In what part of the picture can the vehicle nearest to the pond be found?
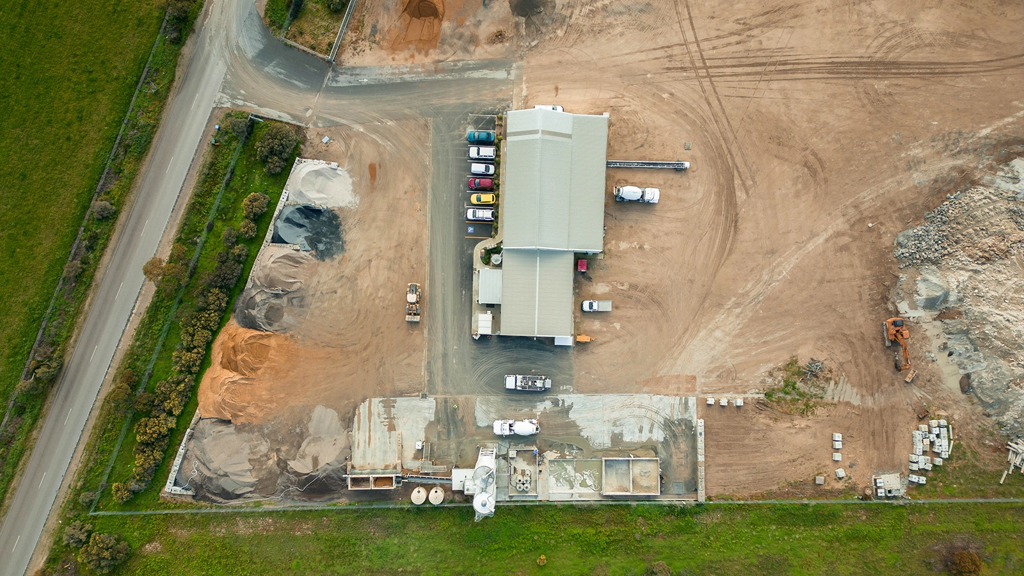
bottom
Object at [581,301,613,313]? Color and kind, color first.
white vehicle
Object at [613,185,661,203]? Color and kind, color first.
white vehicle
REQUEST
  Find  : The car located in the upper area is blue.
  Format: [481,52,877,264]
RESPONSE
[467,129,495,142]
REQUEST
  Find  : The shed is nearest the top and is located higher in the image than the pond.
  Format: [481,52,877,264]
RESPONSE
[503,105,610,251]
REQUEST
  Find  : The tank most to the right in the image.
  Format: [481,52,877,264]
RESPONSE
[601,454,660,495]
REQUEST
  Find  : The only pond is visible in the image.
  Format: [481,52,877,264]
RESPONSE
[548,459,601,493]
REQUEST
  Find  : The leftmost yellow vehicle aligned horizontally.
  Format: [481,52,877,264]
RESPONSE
[470,192,495,205]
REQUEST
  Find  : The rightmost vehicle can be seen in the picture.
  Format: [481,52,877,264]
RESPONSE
[880,317,911,372]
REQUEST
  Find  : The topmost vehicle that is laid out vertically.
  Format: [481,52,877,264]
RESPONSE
[404,284,420,322]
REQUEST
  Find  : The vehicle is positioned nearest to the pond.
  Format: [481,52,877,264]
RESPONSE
[495,420,542,440]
